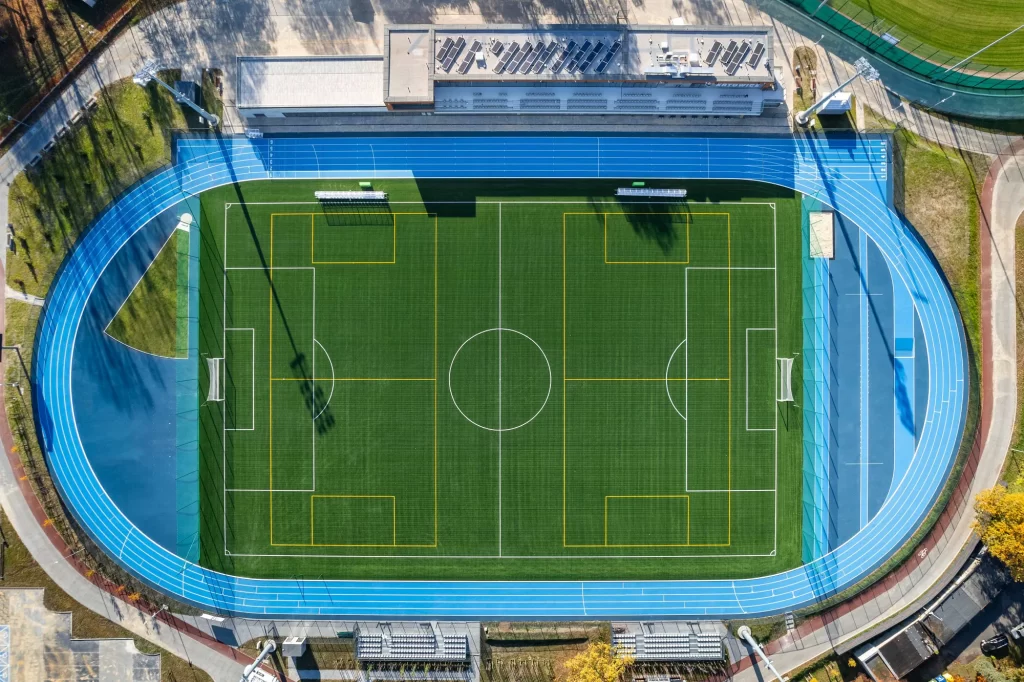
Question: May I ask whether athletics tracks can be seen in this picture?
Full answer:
Yes, the frame does contain an athletics track.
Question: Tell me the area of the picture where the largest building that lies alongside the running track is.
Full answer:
The largest building that lies alongside the running track sits in the top section of the image.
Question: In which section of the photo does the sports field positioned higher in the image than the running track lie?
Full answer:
You can find the sports field positioned higher in the image than the running track in the top right area of the picture.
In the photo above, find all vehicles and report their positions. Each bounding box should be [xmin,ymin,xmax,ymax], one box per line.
[978,634,1008,651]
[1009,618,1024,637]
[243,668,277,682]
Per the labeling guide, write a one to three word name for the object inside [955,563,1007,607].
building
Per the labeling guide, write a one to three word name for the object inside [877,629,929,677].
building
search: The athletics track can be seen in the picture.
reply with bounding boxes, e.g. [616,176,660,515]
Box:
[32,131,970,622]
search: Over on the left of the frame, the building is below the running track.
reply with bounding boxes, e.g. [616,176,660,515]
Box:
[281,637,306,657]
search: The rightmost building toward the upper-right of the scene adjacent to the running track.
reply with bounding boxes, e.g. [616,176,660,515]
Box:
[813,93,851,114]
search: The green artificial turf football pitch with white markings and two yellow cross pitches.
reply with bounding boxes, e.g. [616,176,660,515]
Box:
[200,178,803,582]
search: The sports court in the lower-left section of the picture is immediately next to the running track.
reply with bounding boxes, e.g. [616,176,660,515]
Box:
[0,587,162,682]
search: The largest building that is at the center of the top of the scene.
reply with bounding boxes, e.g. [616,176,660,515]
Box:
[237,25,786,122]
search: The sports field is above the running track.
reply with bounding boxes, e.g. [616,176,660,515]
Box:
[801,0,1024,91]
